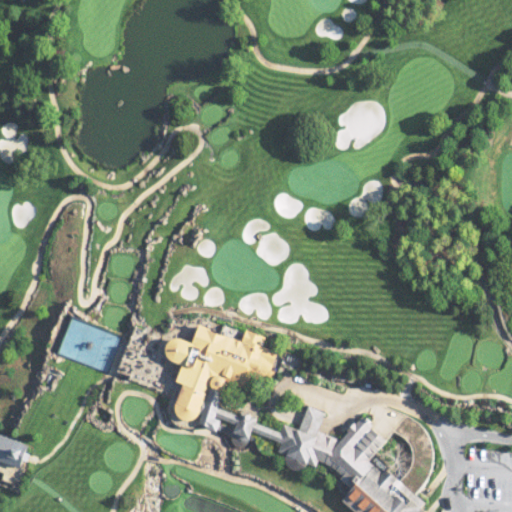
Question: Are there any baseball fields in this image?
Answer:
No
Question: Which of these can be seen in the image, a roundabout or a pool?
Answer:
pool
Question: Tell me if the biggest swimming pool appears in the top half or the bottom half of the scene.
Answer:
bottom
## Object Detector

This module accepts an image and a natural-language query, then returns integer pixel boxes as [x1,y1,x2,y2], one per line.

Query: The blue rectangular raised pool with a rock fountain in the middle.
[59,318,121,374]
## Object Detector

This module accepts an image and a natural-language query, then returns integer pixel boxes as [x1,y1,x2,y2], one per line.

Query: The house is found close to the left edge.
[0,432,30,470]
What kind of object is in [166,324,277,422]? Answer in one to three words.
building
